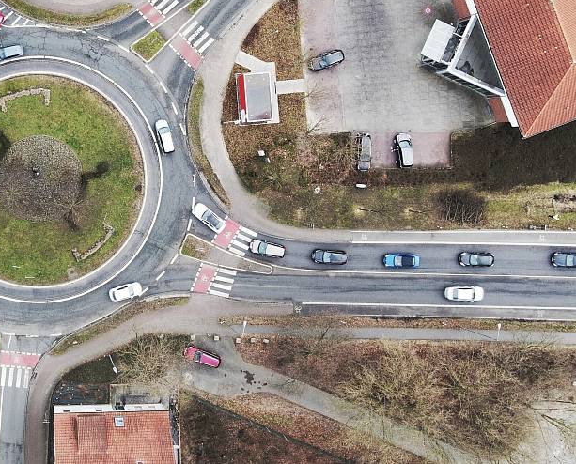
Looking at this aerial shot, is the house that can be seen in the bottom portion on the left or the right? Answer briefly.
left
